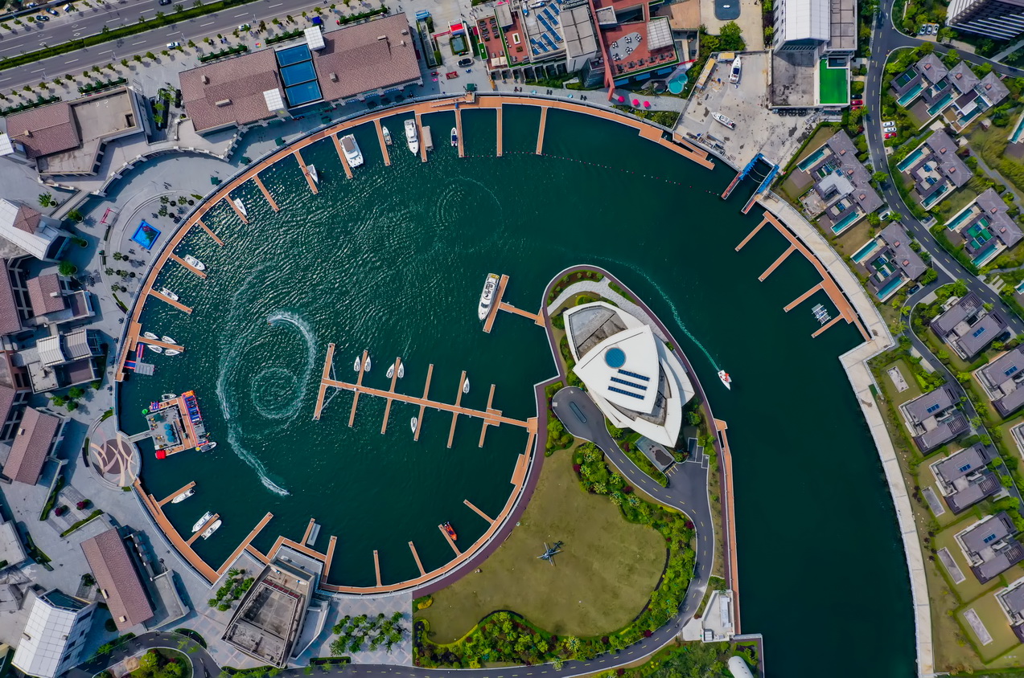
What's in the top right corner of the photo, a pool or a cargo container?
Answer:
pool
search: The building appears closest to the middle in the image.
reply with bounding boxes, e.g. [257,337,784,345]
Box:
[564,301,695,448]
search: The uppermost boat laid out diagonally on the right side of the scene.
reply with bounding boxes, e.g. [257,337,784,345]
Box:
[712,112,737,130]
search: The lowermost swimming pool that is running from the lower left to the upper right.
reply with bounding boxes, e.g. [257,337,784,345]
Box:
[875,275,909,301]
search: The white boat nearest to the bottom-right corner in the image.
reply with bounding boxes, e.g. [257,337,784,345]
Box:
[719,370,732,390]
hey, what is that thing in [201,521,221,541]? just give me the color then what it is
white boat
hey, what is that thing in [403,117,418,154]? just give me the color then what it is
white boat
